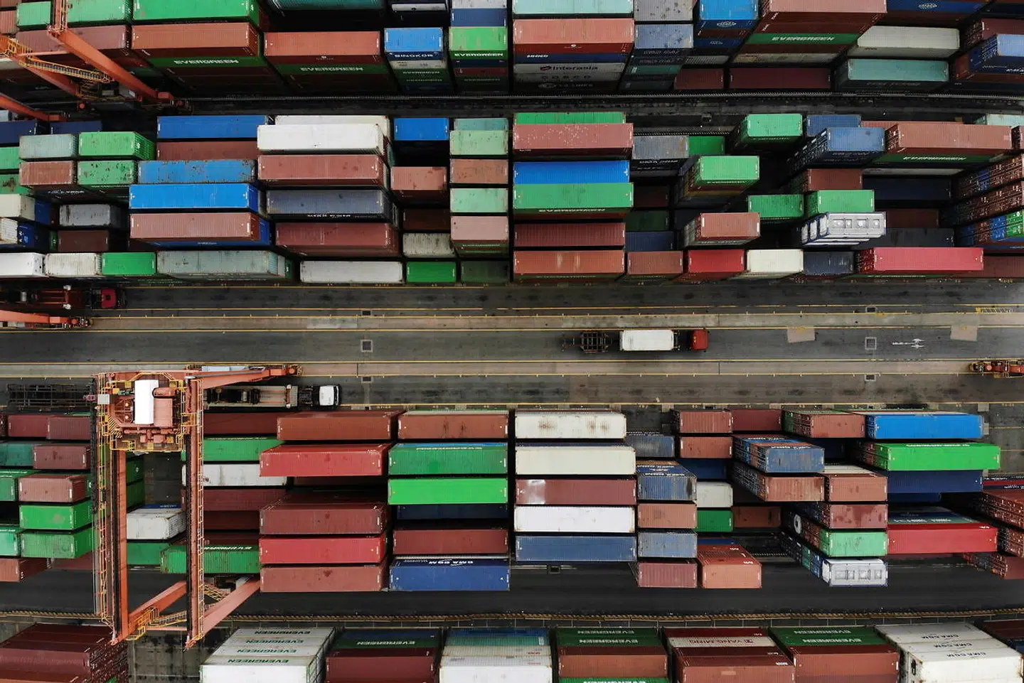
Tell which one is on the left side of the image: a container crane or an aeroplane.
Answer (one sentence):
The one visible on the left side of the image is a container crane.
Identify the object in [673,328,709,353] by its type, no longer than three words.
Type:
truck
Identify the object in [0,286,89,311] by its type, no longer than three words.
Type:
trailer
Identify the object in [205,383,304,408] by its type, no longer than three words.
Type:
trailer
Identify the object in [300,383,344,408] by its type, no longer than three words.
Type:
truck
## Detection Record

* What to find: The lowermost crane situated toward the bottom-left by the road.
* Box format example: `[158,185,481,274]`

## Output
[93,363,303,662]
